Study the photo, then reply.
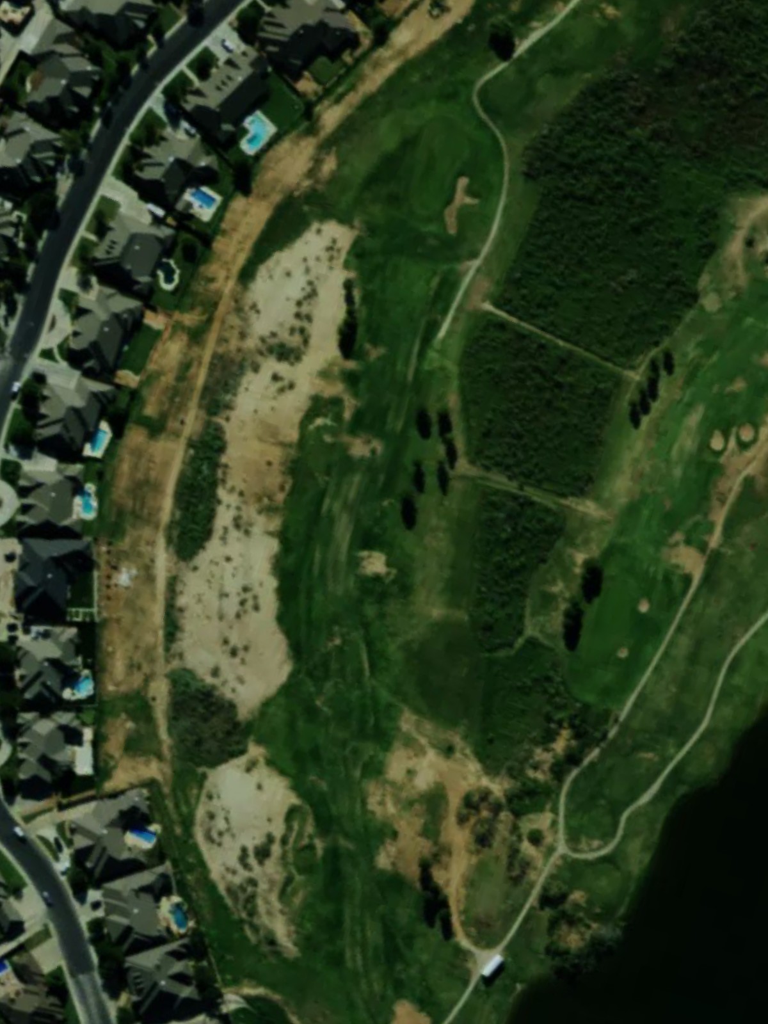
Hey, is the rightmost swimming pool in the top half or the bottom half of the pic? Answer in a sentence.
The rightmost swimming pool is in the top half of the image.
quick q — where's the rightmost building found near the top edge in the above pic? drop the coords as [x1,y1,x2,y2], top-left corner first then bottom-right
[250,0,364,79]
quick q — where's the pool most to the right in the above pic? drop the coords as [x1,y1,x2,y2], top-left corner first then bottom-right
[239,110,277,156]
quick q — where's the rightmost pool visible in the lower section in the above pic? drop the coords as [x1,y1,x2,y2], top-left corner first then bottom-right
[163,894,196,932]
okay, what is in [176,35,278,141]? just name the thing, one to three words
house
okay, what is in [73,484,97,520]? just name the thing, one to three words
swimming pool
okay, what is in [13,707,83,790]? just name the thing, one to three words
house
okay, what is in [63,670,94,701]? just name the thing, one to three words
swimming pool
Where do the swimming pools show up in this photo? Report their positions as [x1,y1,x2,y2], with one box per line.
[129,823,161,847]
[163,894,196,932]
[187,186,223,216]
[63,670,94,701]
[73,484,97,520]
[82,420,111,459]
[0,960,10,973]
[239,110,277,156]
[157,258,180,290]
